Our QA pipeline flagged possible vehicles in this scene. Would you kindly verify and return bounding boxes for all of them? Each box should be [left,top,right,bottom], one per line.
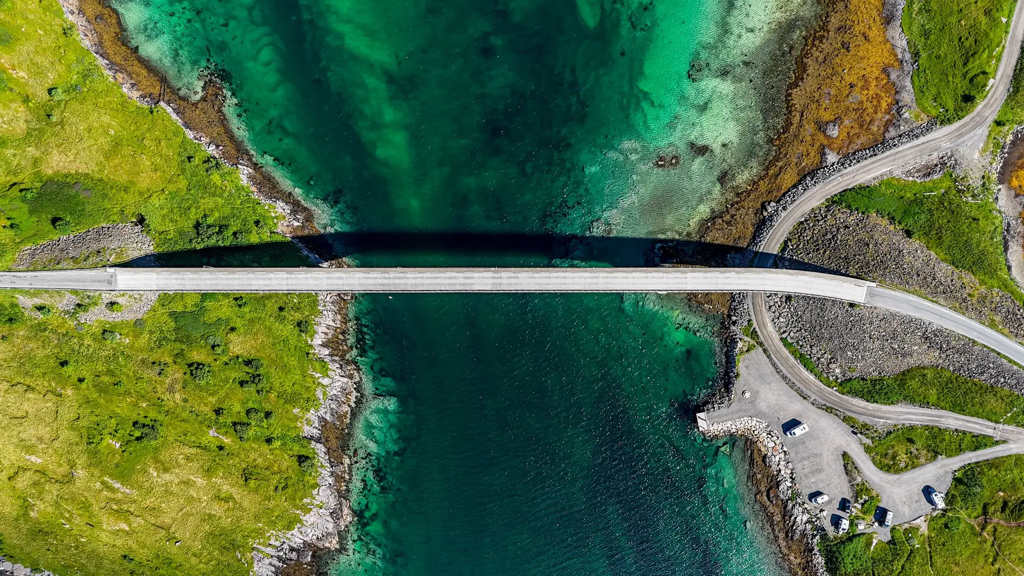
[878,508,894,529]
[784,421,809,437]
[843,498,852,515]
[835,513,850,534]
[924,484,945,509]
[809,493,829,505]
